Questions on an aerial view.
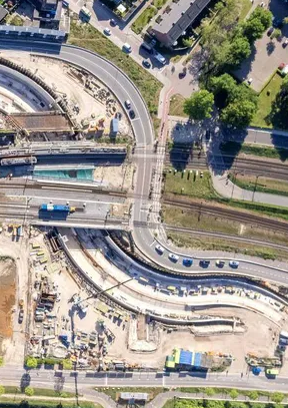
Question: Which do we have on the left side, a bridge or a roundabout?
bridge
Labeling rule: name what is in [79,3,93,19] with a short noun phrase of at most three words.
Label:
vehicle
